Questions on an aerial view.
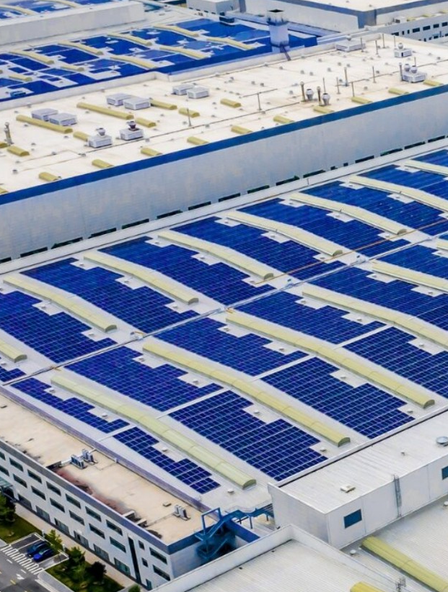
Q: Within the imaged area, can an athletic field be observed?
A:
No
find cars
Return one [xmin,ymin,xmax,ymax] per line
[32,544,55,559]
[25,537,48,551]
